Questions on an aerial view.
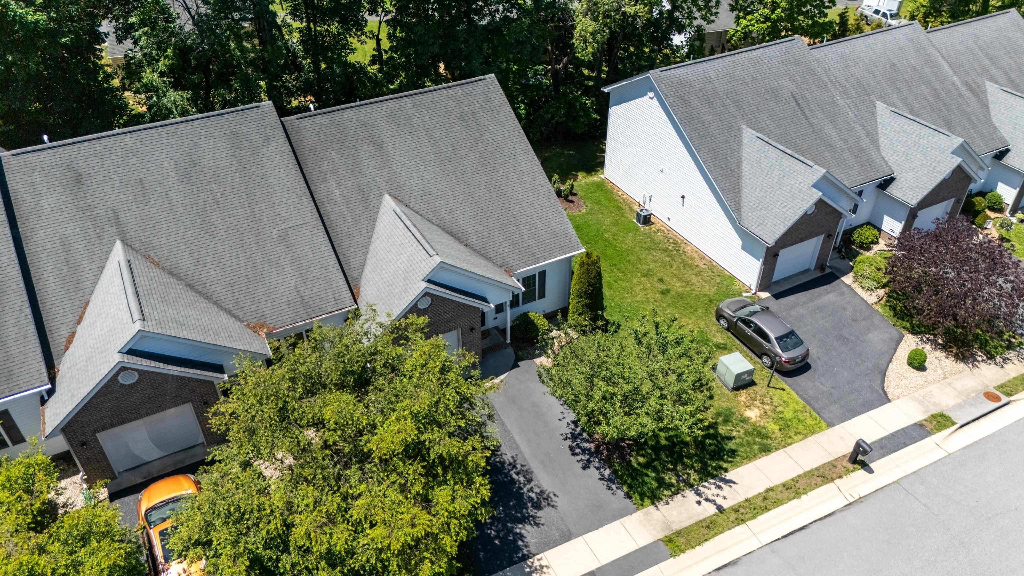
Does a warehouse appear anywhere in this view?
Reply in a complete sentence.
No, no warehouse is visible in the view.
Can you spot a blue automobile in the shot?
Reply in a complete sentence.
No, I can't see a single blue automobile in this photo.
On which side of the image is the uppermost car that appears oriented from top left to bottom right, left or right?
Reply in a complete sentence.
The uppermost car that appears oriented from top left to bottom right appears in the right half of the scene.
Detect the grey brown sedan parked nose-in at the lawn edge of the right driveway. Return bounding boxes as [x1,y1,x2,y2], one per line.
[718,300,817,384]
